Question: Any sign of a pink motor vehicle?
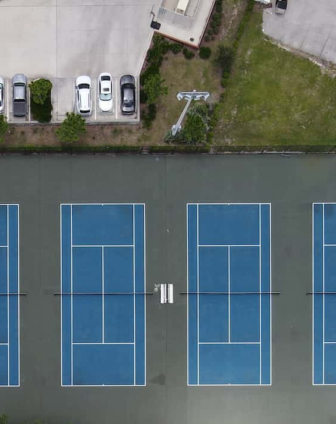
No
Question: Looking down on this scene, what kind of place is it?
sports ground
